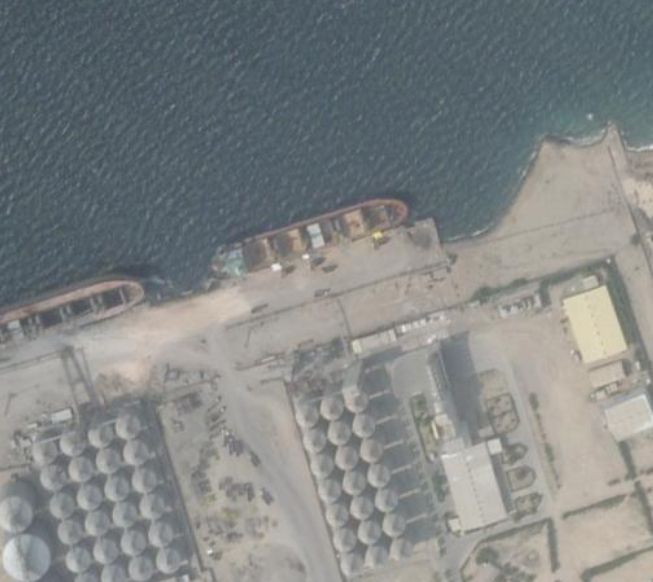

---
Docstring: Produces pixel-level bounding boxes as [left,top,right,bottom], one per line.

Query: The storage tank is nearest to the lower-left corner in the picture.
[3,517,56,579]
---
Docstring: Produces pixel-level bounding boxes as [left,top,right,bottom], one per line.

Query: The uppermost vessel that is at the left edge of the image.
[0,278,144,356]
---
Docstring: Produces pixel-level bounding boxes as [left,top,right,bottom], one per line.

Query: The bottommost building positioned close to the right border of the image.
[605,392,653,441]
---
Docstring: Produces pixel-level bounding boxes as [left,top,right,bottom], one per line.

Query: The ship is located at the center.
[210,197,409,280]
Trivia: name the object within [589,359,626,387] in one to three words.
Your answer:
building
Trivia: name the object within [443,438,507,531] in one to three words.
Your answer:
building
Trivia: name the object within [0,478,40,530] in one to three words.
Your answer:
storage tank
